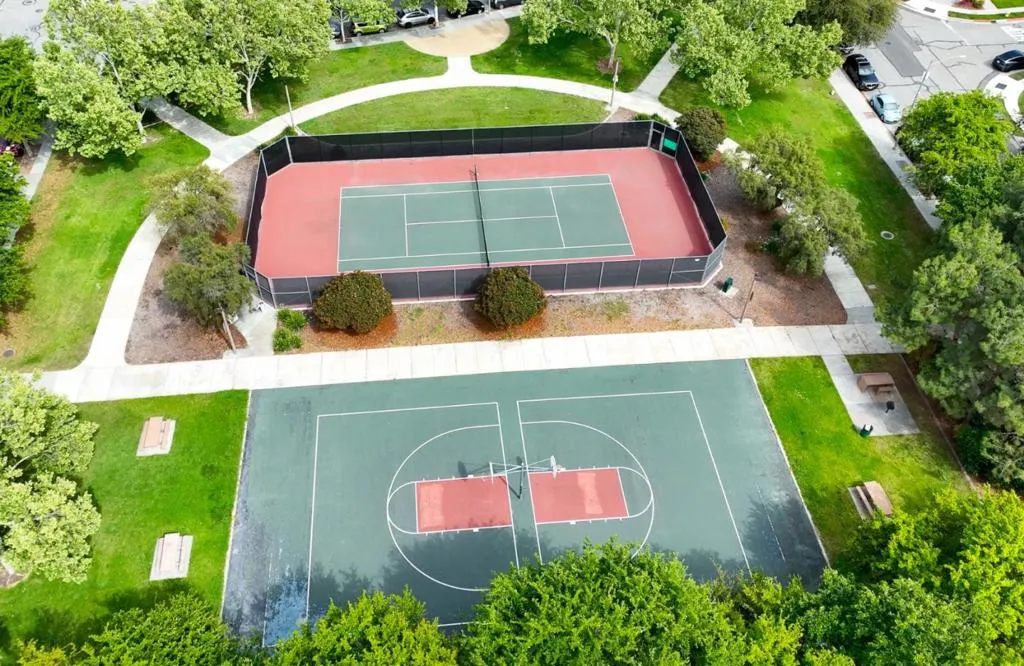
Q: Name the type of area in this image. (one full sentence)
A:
The area seen from above is a sports ground.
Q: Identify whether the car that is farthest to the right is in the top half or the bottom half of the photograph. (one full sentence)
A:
It is in the top half that the car that is farthest to the right appears.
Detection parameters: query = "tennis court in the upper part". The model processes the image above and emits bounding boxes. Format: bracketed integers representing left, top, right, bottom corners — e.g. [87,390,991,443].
[246,147,722,314]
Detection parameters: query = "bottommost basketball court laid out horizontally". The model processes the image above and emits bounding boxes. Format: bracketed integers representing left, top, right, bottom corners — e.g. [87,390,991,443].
[217,359,859,666]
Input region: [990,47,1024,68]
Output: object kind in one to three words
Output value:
car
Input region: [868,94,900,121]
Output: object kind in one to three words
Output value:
car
